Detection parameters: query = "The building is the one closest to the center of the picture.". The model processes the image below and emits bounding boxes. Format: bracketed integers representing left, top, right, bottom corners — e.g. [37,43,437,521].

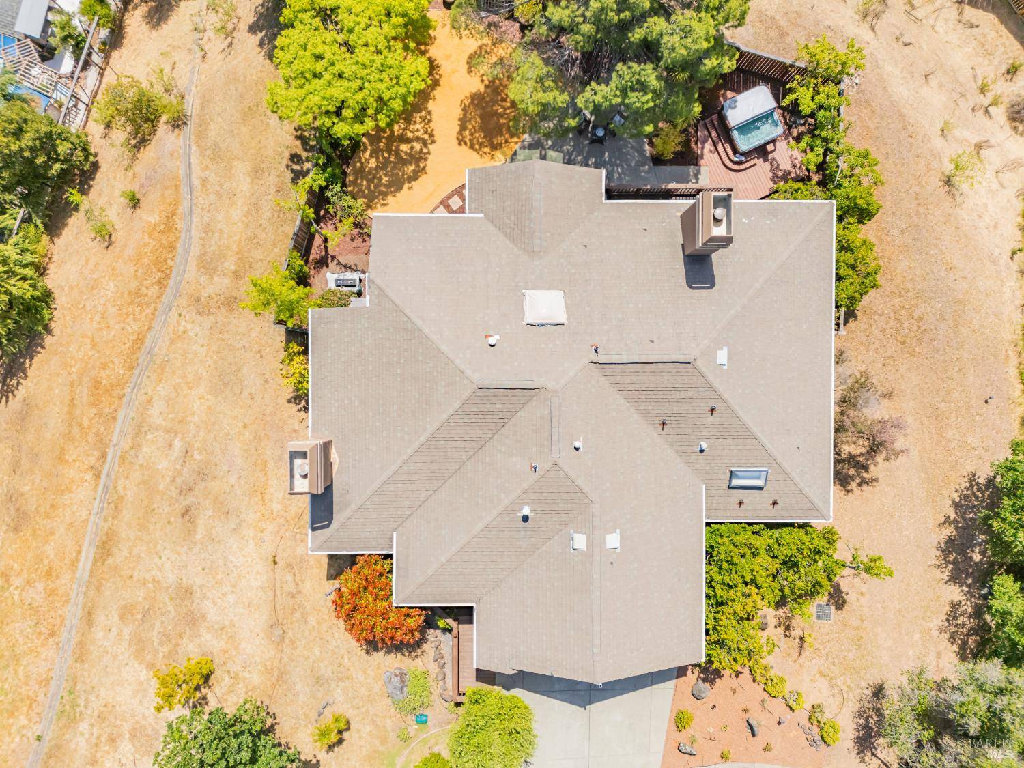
[289,160,837,688]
